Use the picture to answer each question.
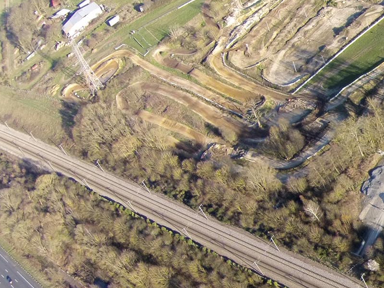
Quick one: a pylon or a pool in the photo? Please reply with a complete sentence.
Of the two, only a pylon appears.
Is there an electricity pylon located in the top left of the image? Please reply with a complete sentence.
Yes, an electricity pylon appears in the top left of the image.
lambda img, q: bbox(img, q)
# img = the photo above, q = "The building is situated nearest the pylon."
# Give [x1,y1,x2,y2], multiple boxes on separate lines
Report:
[62,2,105,43]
